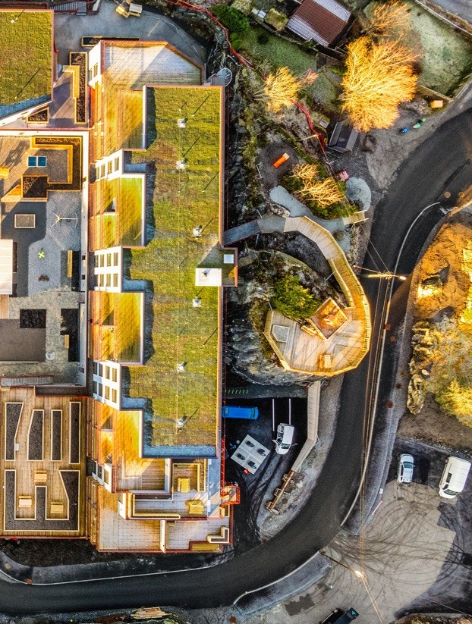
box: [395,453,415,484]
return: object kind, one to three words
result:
car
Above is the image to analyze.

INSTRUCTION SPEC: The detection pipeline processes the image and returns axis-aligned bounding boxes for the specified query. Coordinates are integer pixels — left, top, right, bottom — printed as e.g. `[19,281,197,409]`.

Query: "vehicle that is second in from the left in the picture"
[269,422,300,456]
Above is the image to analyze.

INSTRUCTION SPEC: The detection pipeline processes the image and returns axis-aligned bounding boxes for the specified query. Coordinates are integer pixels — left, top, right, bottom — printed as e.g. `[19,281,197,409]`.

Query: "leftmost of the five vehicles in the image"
[221,403,257,420]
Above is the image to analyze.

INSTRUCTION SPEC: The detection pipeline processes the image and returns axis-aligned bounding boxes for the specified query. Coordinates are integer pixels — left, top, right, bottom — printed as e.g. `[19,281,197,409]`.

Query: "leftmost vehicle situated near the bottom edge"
[315,603,358,624]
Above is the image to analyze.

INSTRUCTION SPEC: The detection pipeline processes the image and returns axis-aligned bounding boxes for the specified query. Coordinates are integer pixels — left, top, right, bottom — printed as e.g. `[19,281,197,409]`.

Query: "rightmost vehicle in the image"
[432,453,472,501]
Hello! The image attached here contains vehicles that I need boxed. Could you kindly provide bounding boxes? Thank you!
[432,453,472,501]
[395,453,415,484]
[269,422,300,456]
[221,403,257,420]
[315,603,358,624]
